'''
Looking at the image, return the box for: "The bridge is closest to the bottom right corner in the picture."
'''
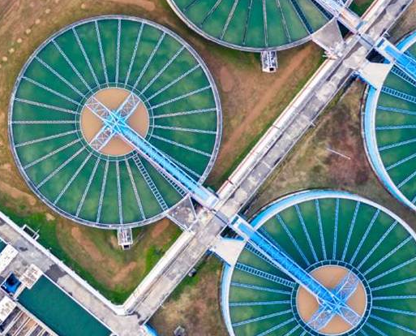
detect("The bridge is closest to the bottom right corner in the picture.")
[227,214,353,319]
